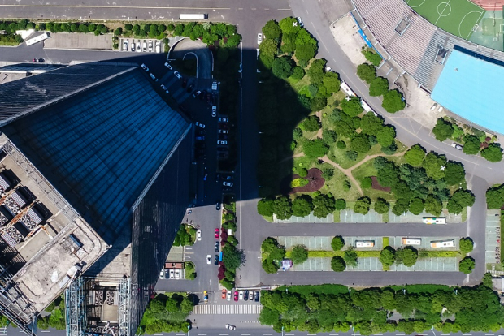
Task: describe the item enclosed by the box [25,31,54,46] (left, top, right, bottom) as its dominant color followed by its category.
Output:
white vehicle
